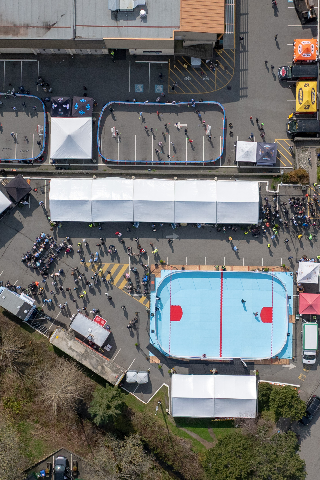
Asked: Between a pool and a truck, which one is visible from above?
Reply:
truck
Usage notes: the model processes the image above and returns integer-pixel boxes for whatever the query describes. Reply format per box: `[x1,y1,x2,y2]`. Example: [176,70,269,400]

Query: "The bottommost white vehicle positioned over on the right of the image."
[300,322,318,361]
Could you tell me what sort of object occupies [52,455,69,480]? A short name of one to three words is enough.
car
